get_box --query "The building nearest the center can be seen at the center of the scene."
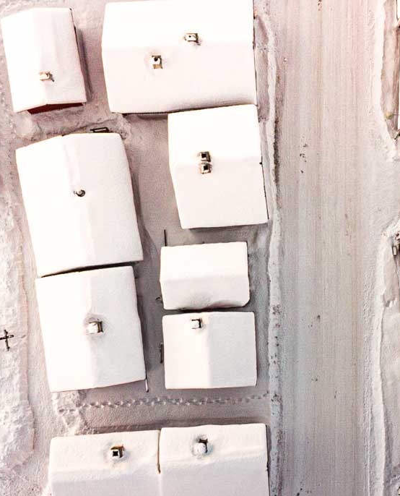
[160,243,250,310]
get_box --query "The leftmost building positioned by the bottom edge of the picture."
[50,430,166,496]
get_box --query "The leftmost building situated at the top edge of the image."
[2,9,87,118]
